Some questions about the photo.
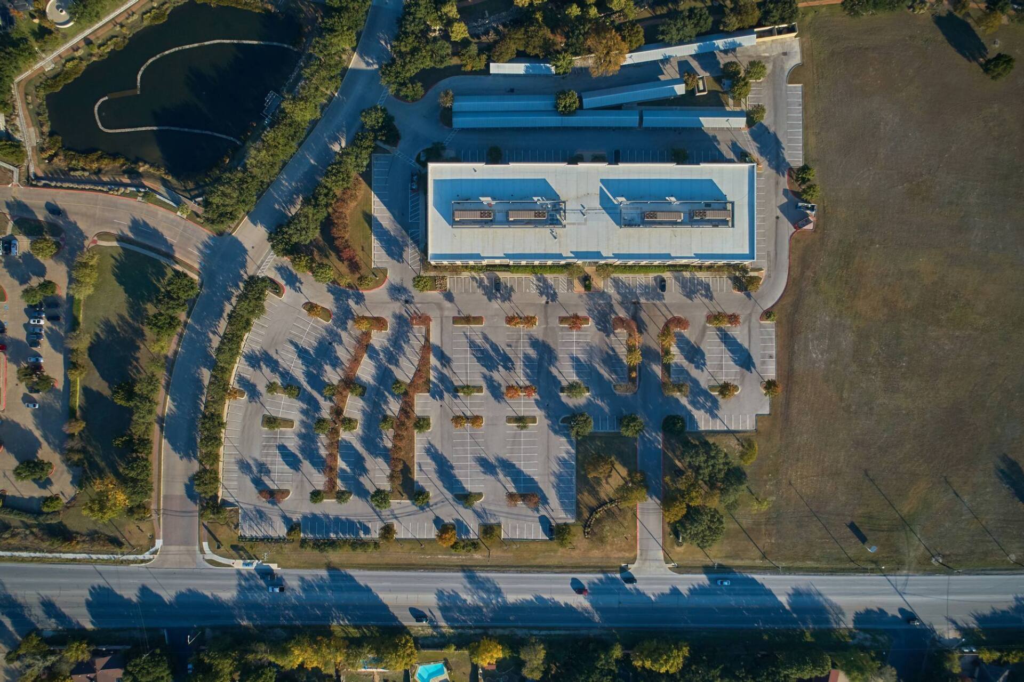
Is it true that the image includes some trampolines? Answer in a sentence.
No, no trampoline is visible in the scene.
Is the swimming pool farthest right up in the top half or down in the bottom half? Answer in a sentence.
The swimming pool farthest right sits in the bottom half of the picture.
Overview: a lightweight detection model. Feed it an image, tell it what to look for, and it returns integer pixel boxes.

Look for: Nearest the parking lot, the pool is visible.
[413,657,451,682]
